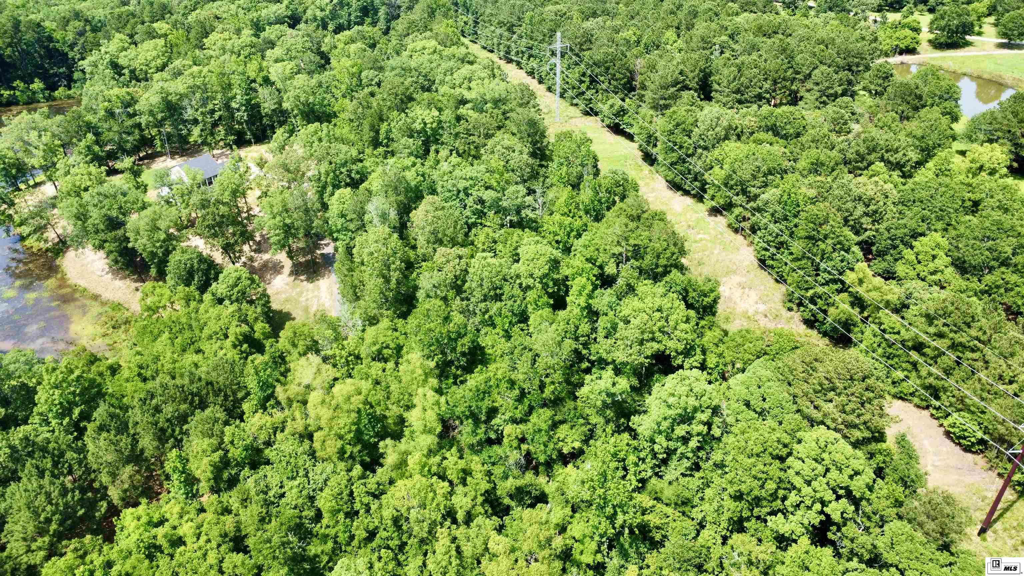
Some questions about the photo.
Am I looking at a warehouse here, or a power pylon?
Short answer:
power pylon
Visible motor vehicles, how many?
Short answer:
zero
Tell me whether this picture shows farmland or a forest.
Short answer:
forest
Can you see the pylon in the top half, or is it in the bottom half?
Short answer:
top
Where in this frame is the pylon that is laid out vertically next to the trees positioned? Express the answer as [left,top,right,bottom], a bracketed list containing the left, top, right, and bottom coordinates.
[547,32,571,123]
